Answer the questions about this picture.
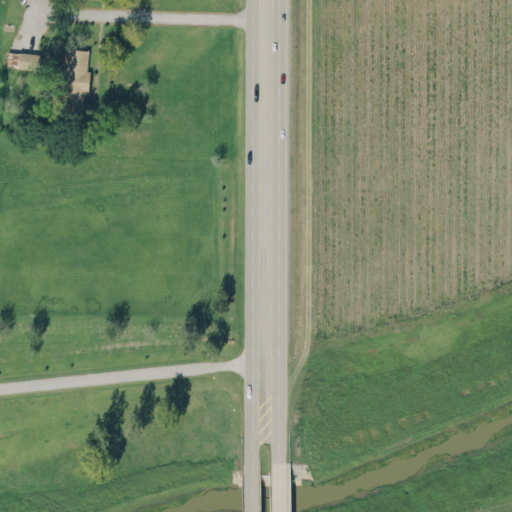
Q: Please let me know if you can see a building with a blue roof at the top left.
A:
No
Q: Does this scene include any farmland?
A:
Yes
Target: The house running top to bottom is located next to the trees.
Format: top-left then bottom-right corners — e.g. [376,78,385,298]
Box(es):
[72,50,90,93]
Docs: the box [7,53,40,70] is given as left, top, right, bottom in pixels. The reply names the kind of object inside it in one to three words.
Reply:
building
